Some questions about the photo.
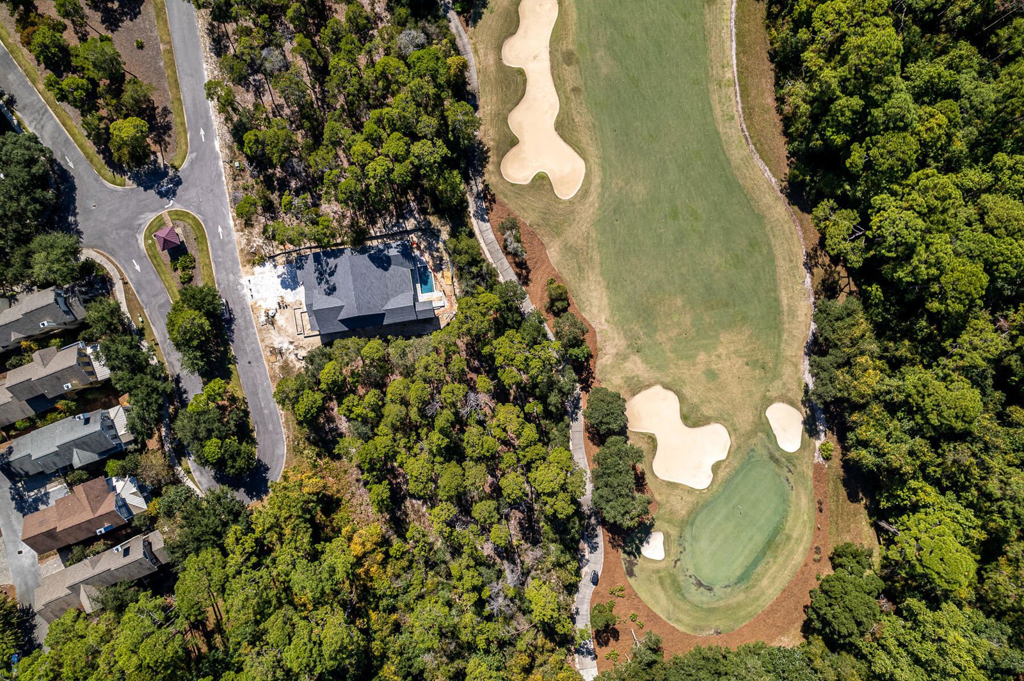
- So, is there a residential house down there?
Yes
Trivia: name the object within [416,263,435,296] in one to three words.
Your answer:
swimming pool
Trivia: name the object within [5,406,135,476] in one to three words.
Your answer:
house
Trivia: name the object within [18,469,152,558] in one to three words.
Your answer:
house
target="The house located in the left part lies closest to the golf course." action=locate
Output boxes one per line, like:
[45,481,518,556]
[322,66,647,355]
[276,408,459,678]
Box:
[295,239,438,334]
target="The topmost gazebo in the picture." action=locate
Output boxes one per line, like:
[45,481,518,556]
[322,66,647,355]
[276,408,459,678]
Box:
[148,222,188,253]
